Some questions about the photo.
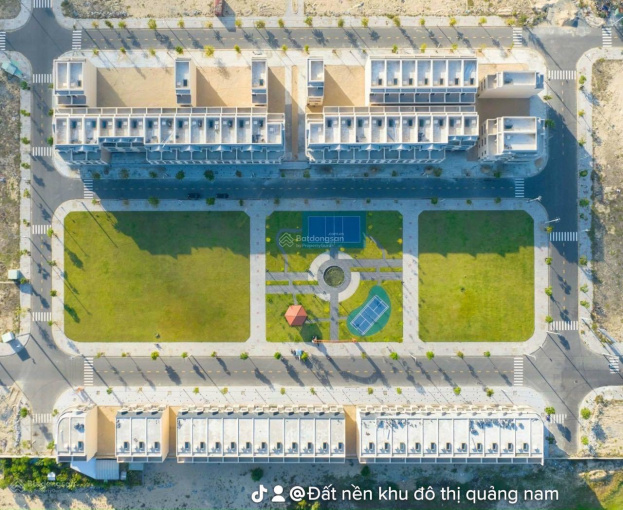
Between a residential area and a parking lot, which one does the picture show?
residential area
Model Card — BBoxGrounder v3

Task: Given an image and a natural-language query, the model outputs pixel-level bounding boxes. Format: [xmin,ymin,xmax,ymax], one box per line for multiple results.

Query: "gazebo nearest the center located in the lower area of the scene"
[286,306,308,325]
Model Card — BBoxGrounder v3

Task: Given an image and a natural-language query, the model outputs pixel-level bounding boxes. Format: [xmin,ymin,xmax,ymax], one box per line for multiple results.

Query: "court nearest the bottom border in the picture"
[347,285,391,336]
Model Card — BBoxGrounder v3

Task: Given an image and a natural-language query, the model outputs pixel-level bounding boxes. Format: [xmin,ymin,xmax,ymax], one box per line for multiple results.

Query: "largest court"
[302,211,366,248]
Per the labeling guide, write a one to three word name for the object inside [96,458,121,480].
shed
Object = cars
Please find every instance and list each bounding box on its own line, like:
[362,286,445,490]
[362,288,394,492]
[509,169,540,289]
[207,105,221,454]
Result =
[187,192,200,198]
[215,192,228,198]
